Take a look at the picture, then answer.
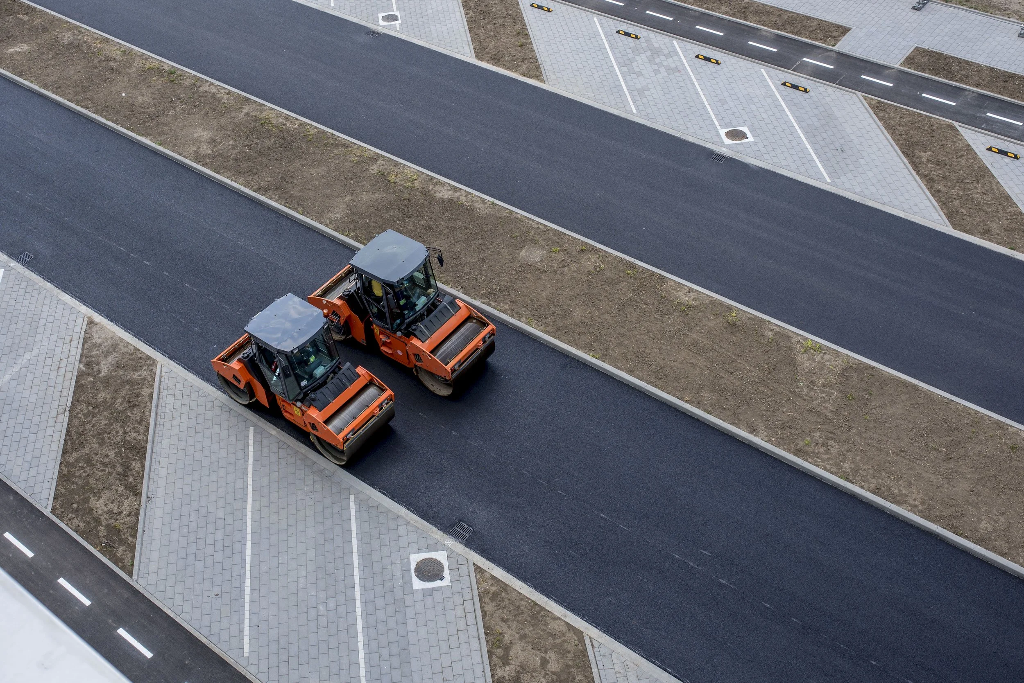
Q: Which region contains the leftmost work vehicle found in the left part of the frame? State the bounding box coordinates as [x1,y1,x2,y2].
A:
[211,293,395,466]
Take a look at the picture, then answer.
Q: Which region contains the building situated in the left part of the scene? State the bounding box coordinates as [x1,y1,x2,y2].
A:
[0,572,128,683]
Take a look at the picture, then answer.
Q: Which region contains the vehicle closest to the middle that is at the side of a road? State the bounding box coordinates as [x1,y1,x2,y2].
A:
[309,231,497,397]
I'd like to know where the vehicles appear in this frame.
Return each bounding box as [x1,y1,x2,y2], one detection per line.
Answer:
[309,231,497,397]
[211,293,395,466]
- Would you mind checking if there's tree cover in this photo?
No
